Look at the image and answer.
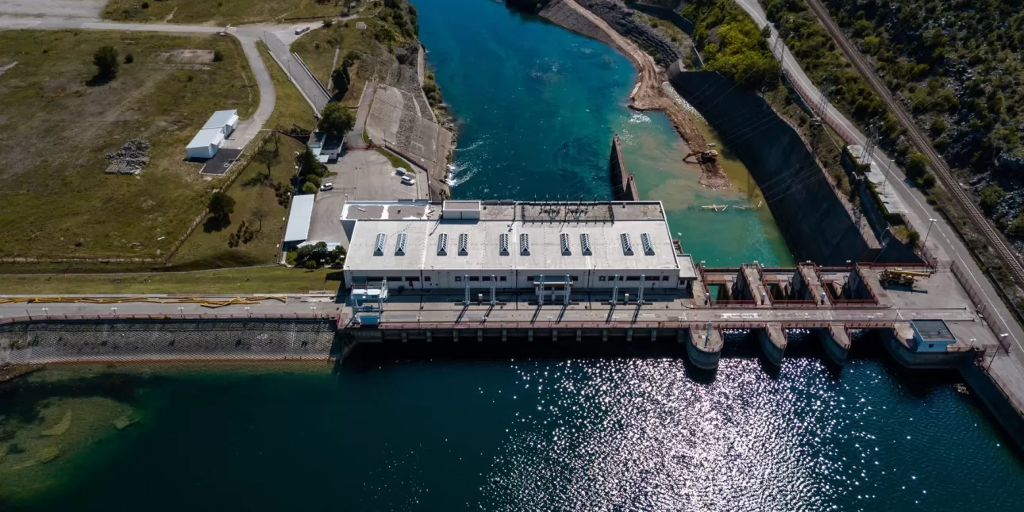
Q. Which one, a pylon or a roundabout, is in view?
pylon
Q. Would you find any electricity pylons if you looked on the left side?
No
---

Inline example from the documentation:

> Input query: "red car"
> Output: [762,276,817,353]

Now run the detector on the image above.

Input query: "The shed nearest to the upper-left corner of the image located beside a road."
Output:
[185,107,245,157]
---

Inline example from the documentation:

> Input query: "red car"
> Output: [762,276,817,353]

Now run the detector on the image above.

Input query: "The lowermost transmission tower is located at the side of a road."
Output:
[859,129,879,162]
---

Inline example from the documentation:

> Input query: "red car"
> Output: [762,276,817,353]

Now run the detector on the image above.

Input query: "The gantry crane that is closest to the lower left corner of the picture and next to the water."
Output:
[340,277,392,326]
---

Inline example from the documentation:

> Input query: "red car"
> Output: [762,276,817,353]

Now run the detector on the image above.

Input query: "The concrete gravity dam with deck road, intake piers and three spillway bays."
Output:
[322,264,1024,405]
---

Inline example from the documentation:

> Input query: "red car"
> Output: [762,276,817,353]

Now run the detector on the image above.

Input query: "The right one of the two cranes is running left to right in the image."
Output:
[876,268,932,288]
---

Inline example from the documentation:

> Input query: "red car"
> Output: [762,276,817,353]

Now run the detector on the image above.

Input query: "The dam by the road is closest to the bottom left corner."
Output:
[0,318,329,419]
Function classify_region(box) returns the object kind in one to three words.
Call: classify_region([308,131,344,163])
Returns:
building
